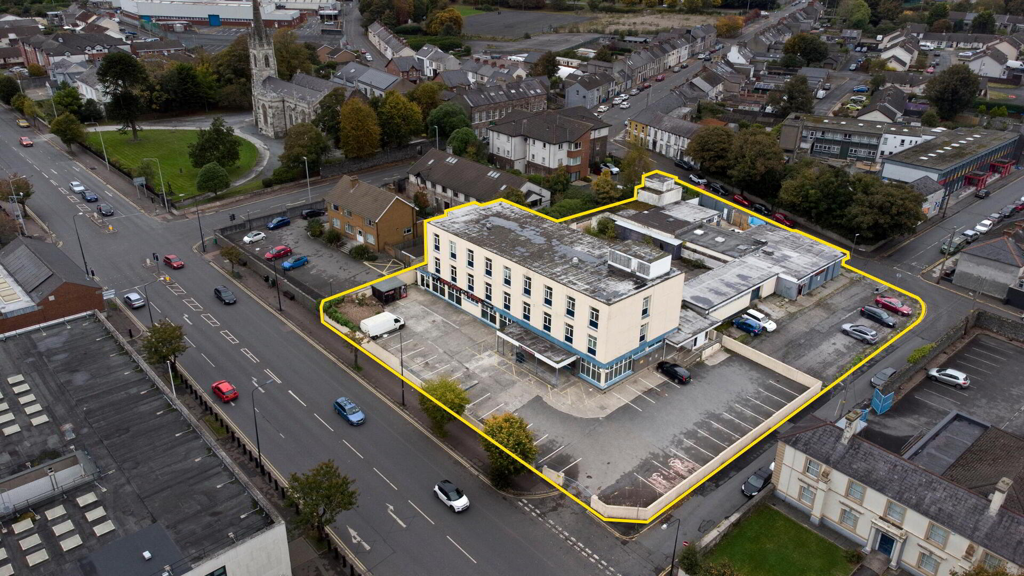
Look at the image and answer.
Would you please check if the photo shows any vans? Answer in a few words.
Yes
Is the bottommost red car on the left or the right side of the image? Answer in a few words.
left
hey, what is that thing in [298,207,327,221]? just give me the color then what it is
black car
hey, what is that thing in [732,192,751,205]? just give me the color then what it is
red vehicle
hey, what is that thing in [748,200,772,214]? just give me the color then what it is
black car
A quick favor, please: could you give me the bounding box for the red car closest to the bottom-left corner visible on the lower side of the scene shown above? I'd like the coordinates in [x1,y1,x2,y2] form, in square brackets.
[208,383,239,407]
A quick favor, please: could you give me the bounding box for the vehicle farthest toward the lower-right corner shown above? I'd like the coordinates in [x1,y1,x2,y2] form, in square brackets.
[933,364,976,387]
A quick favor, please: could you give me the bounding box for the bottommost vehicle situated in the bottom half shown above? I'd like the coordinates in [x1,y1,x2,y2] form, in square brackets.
[431,480,472,517]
